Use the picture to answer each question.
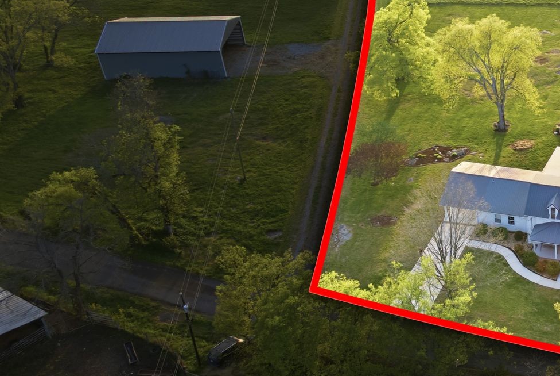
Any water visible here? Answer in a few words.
No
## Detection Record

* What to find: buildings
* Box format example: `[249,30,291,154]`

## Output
[0,281,55,354]
[441,148,560,263]
[94,17,250,80]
